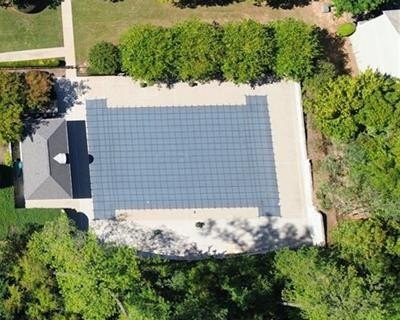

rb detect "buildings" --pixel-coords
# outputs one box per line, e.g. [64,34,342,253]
[20,118,73,200]
[340,8,400,82]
